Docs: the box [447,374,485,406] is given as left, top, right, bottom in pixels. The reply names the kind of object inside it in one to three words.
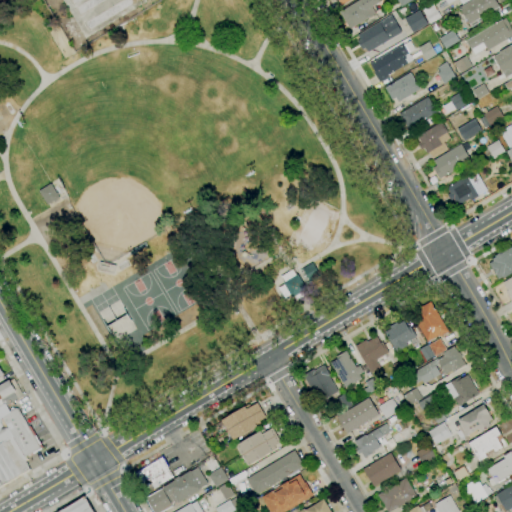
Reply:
house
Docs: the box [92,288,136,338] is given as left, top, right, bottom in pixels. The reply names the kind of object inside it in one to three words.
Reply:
sports court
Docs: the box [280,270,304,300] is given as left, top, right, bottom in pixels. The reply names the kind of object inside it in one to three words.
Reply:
building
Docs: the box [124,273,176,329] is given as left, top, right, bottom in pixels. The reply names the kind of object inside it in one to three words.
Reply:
basketball court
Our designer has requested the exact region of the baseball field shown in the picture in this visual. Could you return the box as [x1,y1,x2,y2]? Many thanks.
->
[76,175,162,260]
